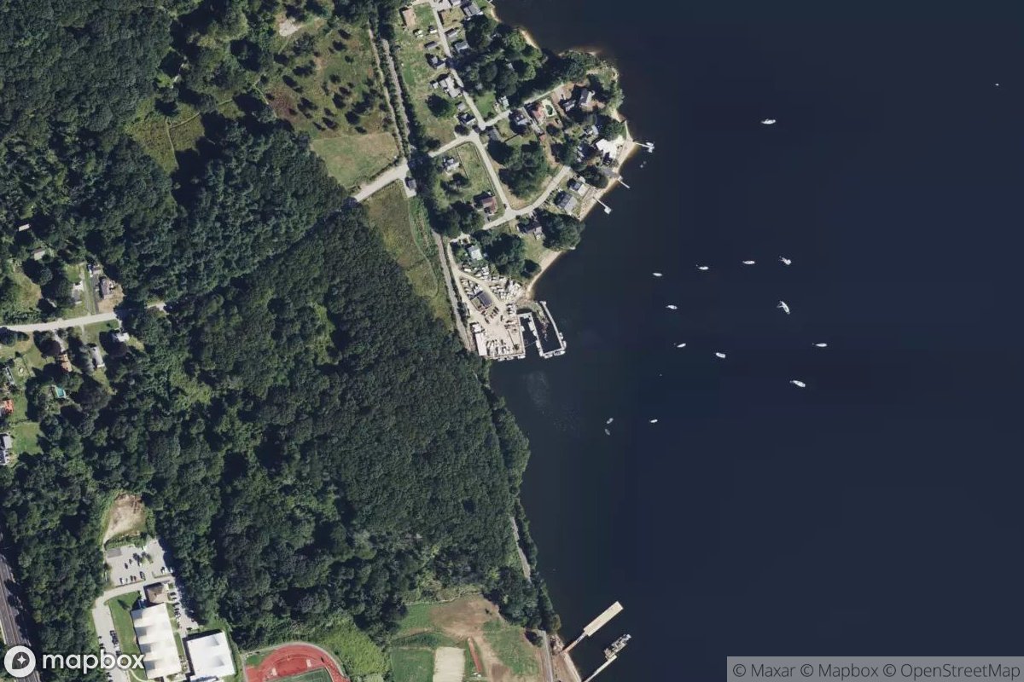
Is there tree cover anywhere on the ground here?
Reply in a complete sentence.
Yes, some tree cover is visible.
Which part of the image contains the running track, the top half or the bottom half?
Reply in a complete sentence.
The bottom half of the photo is where the running track is.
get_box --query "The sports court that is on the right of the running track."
[434,647,465,682]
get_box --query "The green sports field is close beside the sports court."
[392,649,433,682]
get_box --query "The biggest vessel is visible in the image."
[605,635,632,660]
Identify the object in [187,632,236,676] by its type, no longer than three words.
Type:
building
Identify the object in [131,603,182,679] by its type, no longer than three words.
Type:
building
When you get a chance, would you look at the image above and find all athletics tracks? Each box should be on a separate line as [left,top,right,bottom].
[246,640,345,682]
